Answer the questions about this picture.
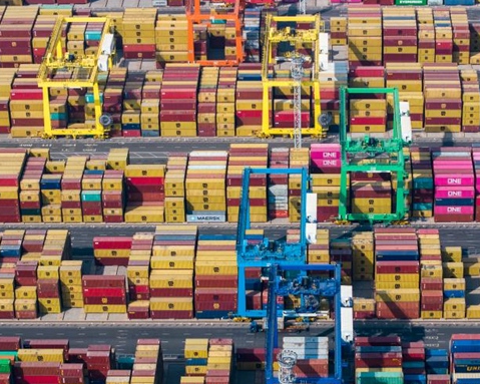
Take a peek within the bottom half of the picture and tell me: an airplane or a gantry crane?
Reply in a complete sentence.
Visible within the bottom half of the picture is a gantry crane.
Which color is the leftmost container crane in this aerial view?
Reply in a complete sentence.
From above, the leftmost container crane appears yellow.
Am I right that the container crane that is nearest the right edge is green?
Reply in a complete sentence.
Yes, the container crane that is nearest the right edge is green.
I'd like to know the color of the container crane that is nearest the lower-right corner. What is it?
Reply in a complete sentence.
The container crane that is nearest the lower-right corner is blue.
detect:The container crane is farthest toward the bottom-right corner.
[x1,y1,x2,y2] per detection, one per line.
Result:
[261,262,356,384]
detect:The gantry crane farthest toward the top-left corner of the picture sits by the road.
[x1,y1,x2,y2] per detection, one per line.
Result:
[34,20,118,138]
